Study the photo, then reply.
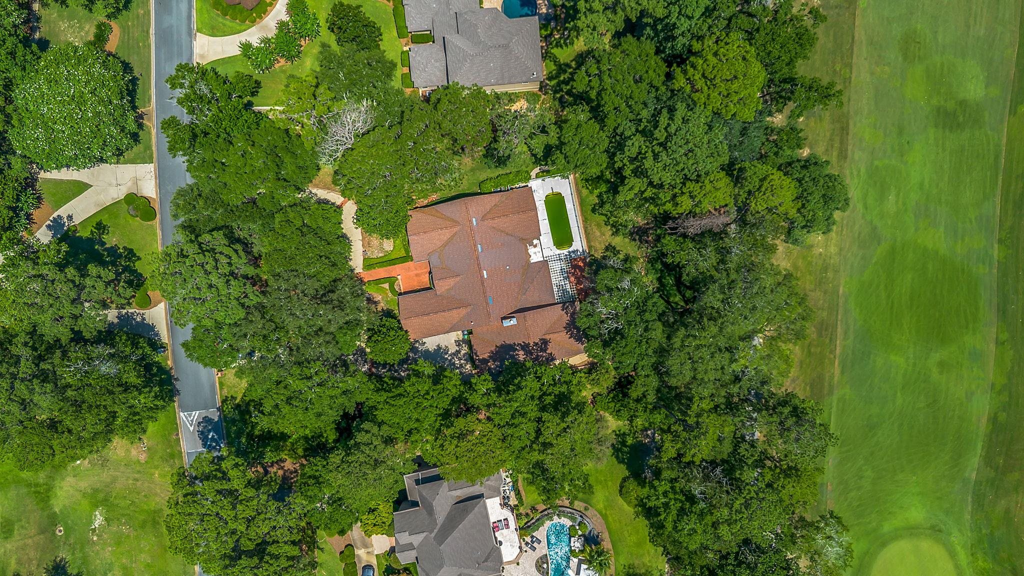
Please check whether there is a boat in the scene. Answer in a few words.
No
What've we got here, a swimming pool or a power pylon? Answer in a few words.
swimming pool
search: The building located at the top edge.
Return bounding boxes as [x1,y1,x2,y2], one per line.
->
[405,0,543,99]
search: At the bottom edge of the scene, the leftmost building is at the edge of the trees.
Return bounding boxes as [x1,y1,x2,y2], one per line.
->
[393,463,503,576]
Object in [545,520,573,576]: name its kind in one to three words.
swimming pool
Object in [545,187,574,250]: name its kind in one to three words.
swimming pool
